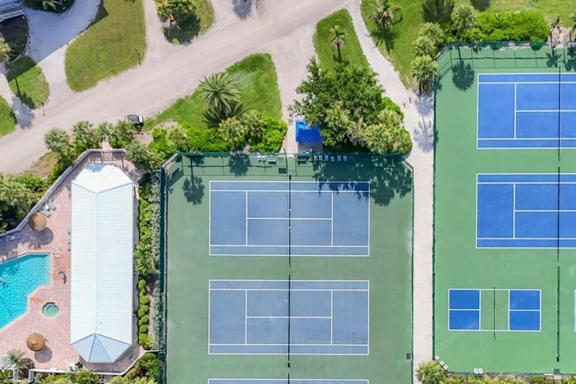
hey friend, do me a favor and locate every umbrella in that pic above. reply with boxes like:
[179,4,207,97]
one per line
[27,333,46,352]
[29,212,47,231]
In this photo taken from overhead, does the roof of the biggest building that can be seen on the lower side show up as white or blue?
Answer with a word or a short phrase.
white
